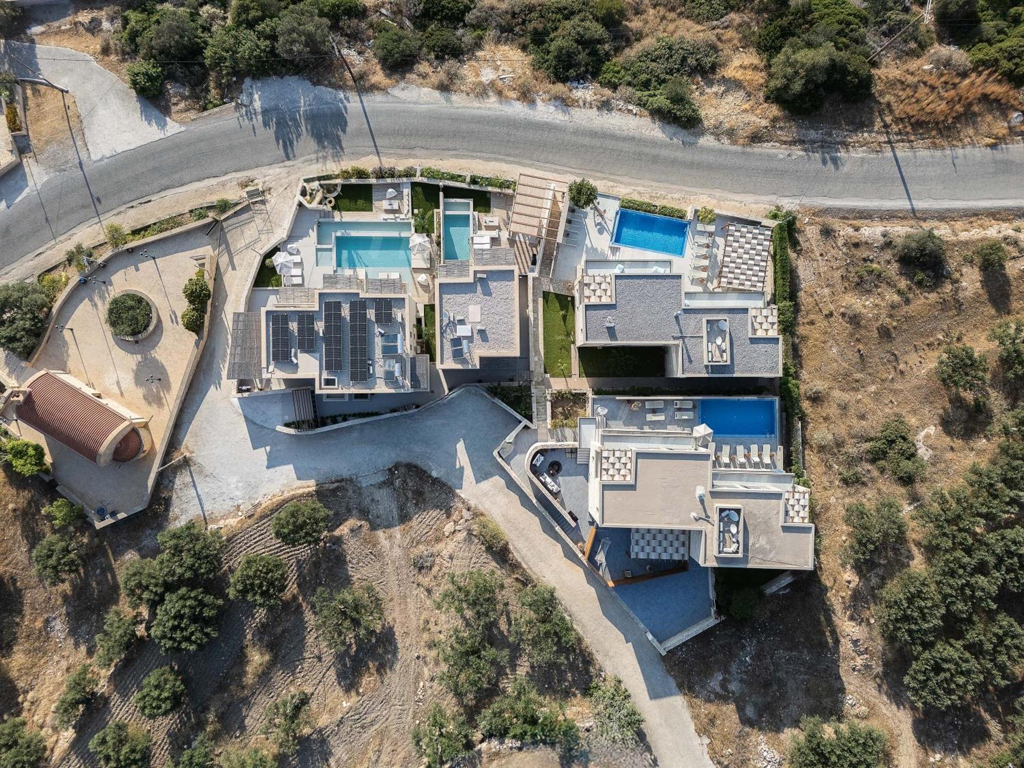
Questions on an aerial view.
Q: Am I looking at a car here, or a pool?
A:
pool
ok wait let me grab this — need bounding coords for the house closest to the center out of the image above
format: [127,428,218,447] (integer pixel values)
[435,265,520,371]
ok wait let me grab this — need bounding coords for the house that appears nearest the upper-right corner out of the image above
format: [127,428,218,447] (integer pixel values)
[576,260,782,378]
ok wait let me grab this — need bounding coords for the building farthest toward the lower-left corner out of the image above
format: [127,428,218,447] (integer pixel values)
[0,367,147,465]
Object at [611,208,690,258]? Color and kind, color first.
blue swimming pool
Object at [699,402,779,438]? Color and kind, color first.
blue swimming pool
